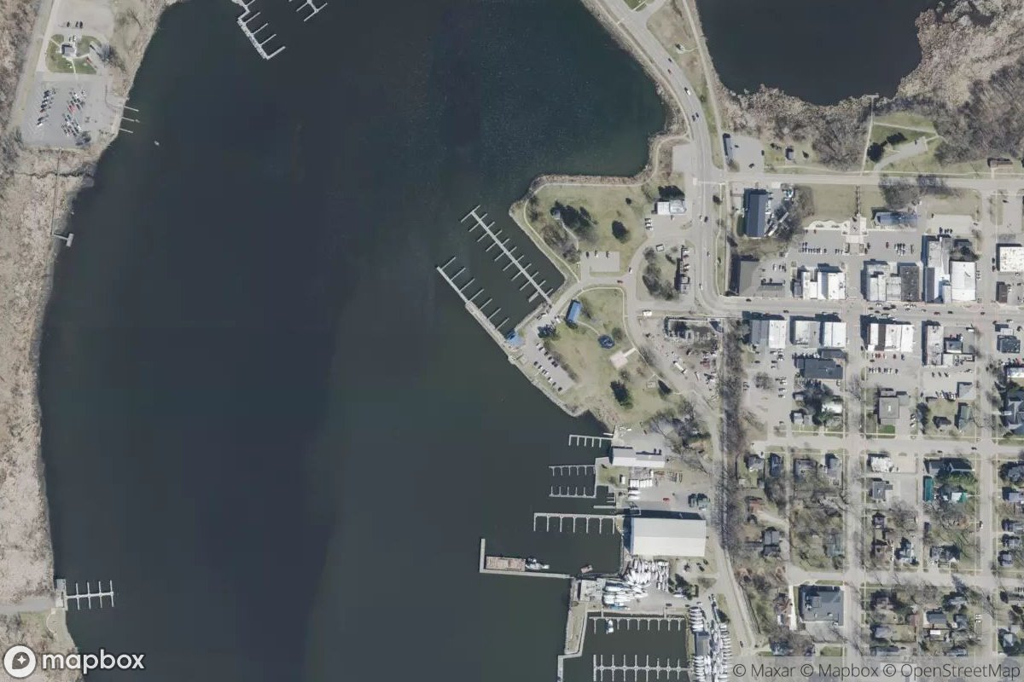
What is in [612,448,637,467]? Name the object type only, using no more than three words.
shed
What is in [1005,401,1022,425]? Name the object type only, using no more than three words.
house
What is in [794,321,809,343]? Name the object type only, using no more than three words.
building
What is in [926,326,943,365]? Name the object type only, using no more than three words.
building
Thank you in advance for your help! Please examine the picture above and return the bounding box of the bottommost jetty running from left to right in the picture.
[593,655,688,681]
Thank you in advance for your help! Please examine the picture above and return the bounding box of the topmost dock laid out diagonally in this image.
[238,0,285,59]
